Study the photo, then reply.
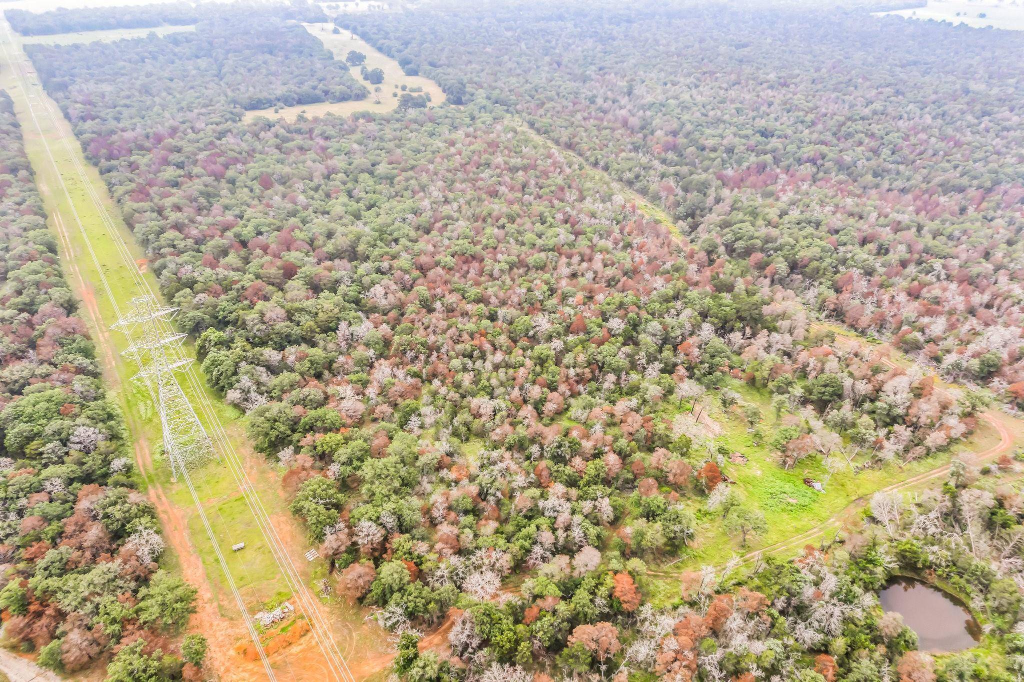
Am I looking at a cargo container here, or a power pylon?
power pylon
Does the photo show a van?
No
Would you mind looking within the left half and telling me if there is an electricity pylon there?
Yes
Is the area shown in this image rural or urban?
rural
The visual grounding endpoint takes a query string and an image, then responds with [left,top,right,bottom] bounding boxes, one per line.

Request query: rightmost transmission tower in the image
[111,303,225,488]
